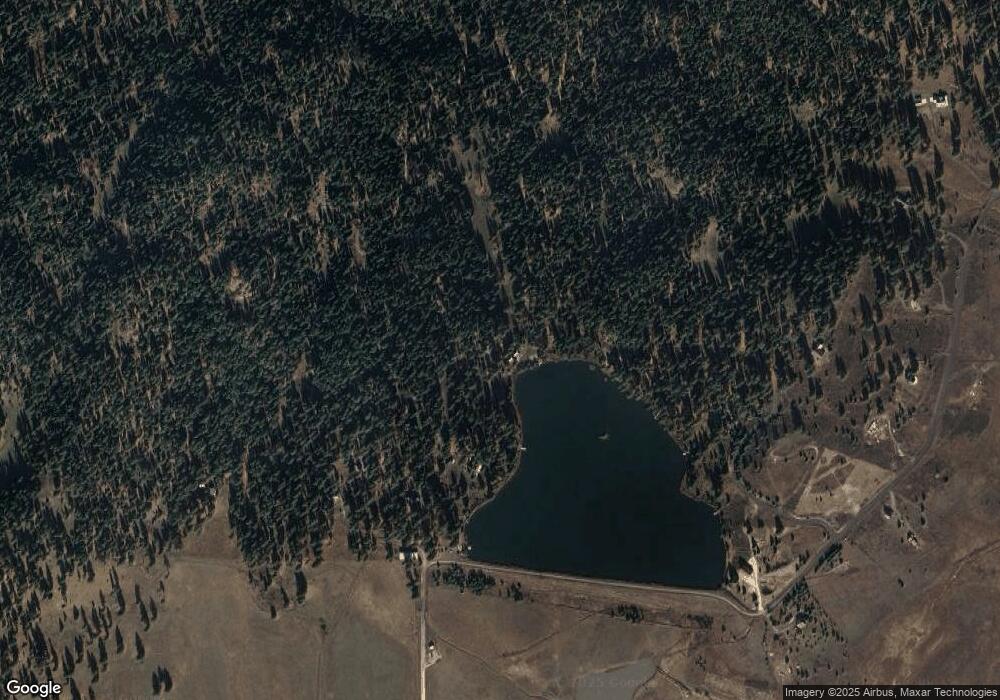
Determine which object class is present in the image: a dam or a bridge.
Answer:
dam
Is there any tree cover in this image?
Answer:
Yes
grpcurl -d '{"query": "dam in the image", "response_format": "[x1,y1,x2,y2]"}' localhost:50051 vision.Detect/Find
[425,556,763,615]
